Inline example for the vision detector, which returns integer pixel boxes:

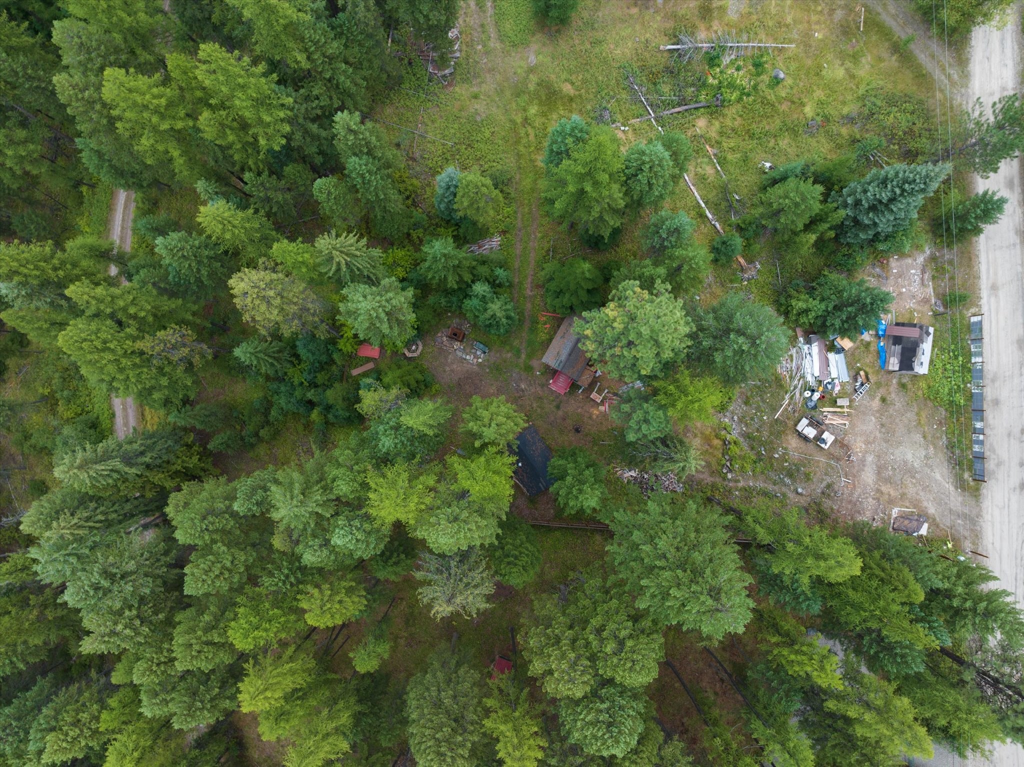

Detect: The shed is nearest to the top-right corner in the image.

[882,322,932,375]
